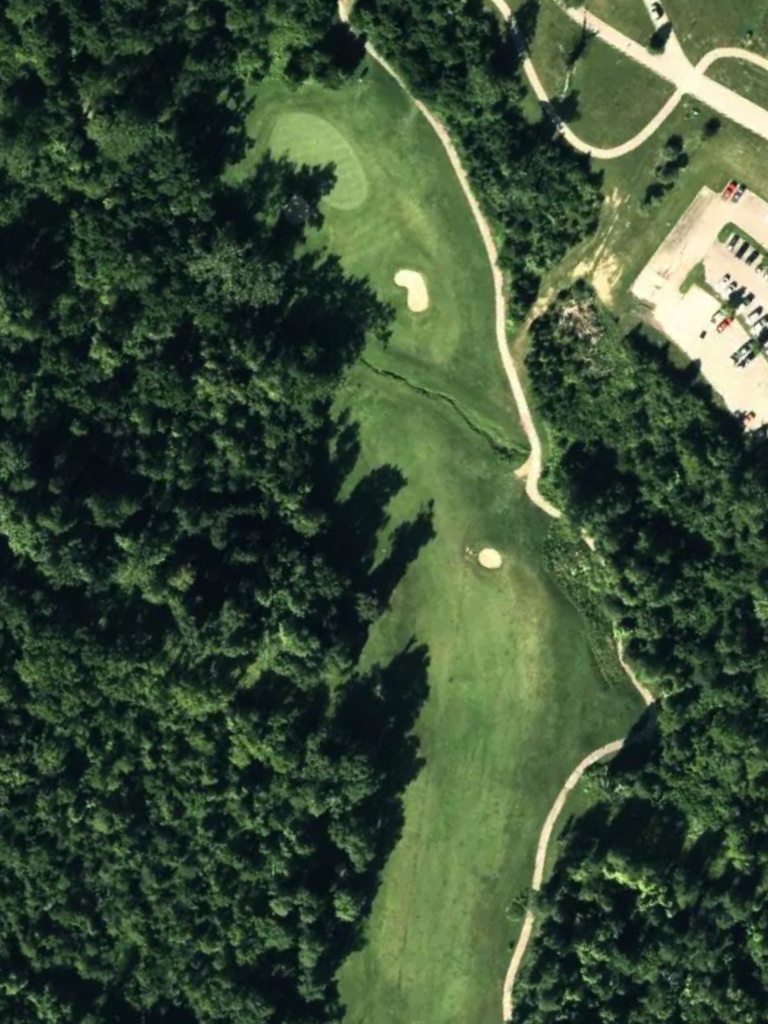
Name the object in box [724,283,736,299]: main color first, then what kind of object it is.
white vehicle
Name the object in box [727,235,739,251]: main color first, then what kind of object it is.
gray vehicle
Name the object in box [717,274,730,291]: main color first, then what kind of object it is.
white vehicle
